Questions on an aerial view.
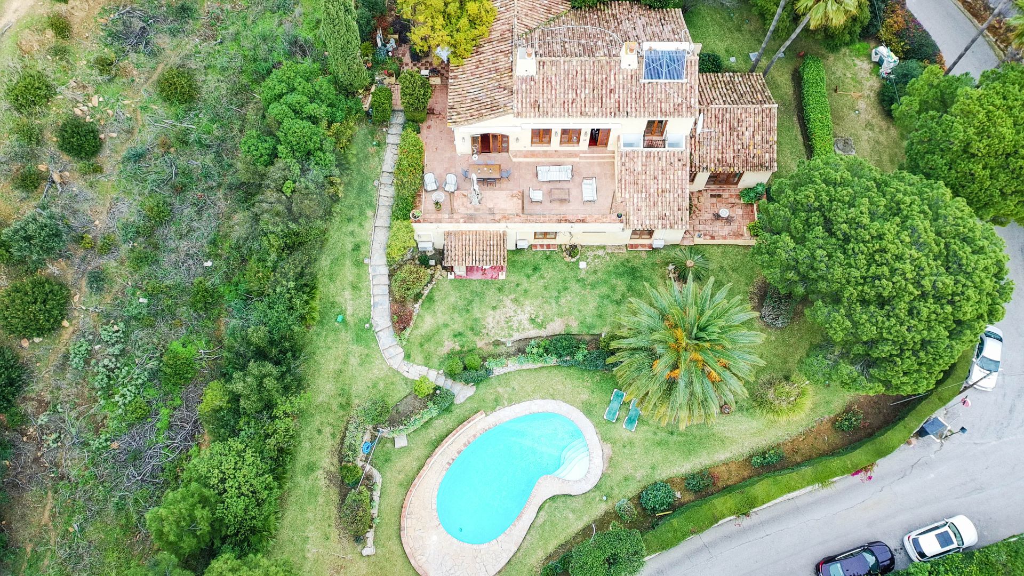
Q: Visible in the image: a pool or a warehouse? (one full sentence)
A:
I can see a pool in this picture.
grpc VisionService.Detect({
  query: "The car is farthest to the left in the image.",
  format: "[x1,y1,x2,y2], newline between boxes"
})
[818,540,900,576]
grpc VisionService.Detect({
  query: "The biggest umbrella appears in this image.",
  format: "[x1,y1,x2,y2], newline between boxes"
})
[470,181,483,209]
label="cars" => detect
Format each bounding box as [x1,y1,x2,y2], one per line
[906,515,985,565]
[970,323,1014,391]
[818,540,900,576]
